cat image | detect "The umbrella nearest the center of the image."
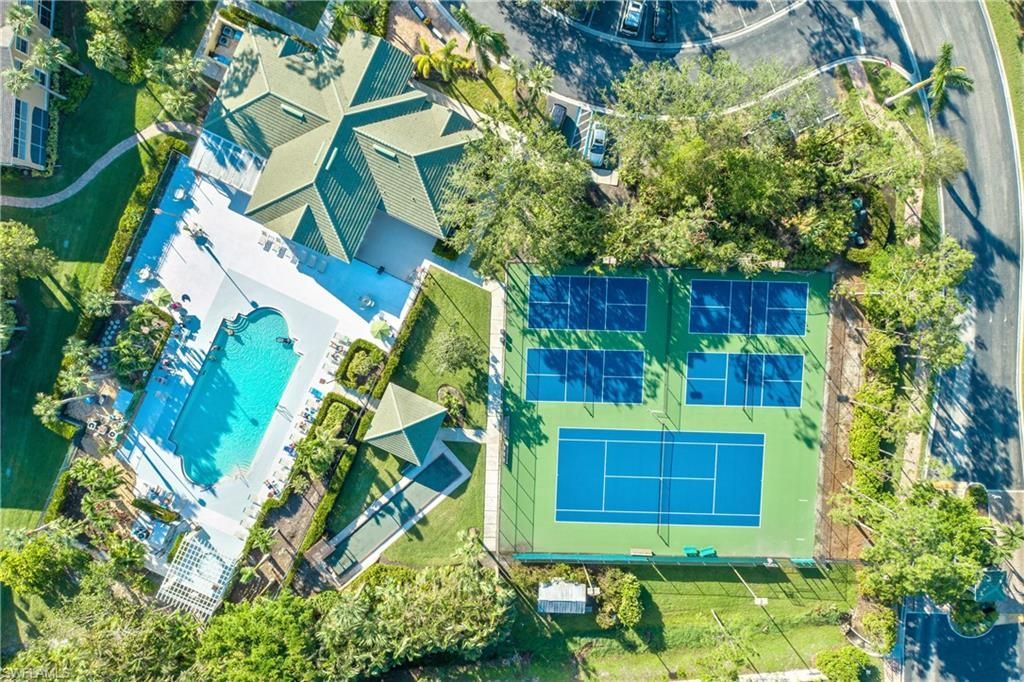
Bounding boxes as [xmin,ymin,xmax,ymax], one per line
[369,318,393,341]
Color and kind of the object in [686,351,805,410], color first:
blue sports court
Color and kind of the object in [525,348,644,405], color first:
blue sports court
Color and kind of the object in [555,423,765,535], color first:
blue tennis court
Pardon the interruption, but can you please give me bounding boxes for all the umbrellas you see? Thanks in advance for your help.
[369,318,393,341]
[151,285,175,308]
